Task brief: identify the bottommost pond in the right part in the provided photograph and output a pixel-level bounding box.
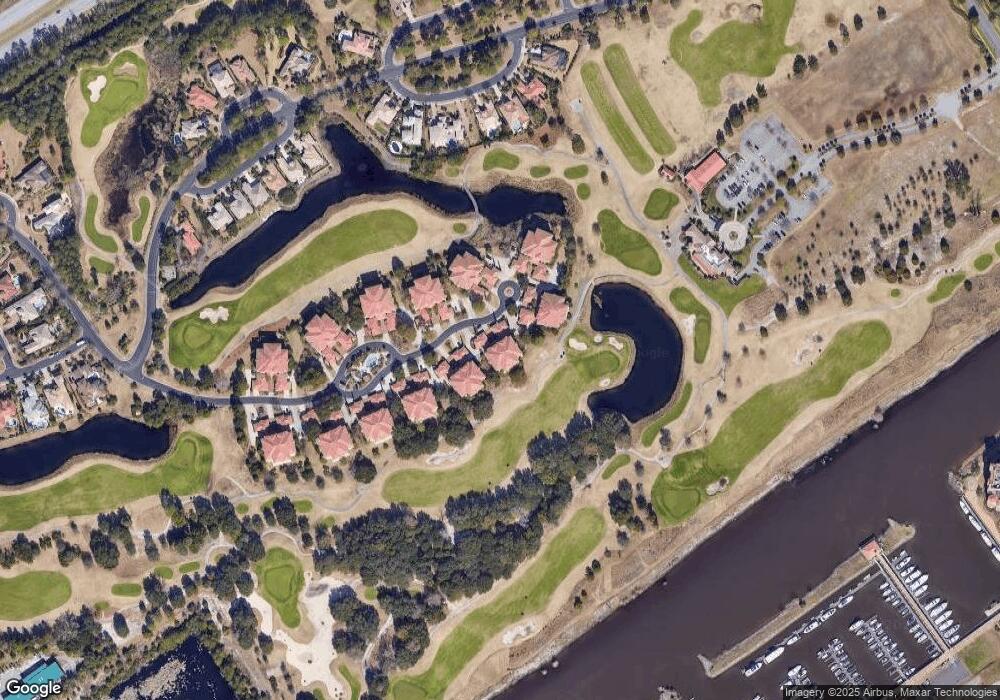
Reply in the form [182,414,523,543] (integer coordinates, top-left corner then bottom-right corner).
[588,283,682,420]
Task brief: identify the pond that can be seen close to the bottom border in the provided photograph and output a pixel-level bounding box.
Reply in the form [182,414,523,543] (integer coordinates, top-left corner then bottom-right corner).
[110,637,236,700]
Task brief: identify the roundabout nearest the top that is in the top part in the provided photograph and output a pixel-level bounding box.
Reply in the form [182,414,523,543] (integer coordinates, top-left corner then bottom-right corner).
[719,221,748,250]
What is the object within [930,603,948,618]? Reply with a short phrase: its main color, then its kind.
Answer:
white boat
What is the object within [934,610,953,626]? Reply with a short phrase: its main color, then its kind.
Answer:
white boat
